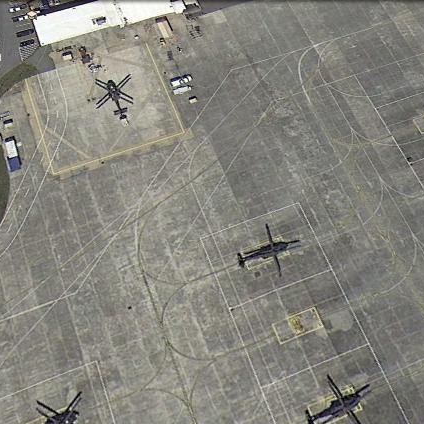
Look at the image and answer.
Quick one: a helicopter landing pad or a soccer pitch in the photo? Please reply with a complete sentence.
Visible in the photo is a helicopter landing pad.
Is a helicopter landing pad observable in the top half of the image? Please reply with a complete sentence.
Yes, a helicopter landing pad appears in the top half of the image.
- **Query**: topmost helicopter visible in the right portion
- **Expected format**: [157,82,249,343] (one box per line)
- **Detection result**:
[235,224,297,270]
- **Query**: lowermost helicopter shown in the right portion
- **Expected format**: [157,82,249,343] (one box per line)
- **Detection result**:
[298,380,365,424]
